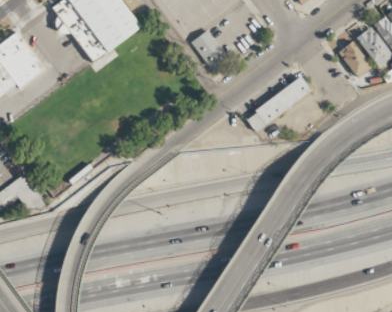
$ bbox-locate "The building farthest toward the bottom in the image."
[0,178,46,209]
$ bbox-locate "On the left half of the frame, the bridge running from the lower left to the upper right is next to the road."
[54,135,190,312]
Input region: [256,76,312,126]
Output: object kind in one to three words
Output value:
building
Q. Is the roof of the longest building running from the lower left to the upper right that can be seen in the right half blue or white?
white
